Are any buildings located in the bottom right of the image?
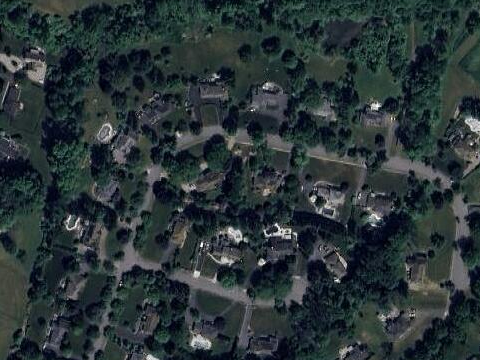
Yes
